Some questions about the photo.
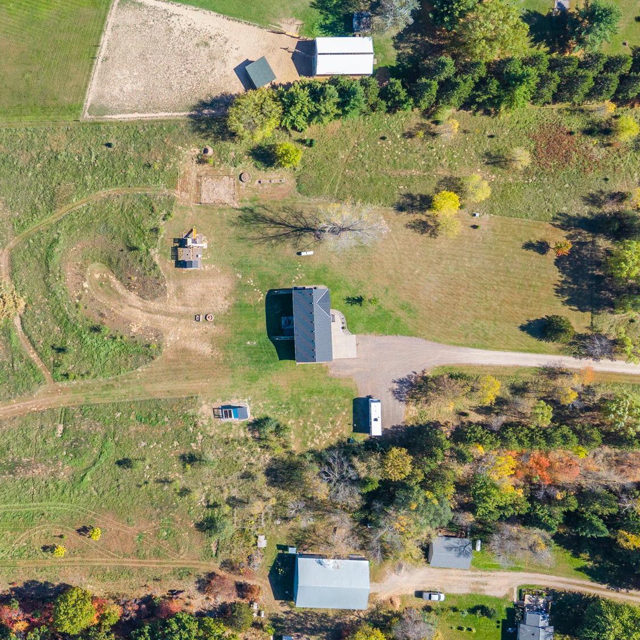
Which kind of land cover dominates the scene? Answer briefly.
grass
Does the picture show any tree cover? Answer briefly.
Yes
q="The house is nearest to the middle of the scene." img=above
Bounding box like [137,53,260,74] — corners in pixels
[291,287,333,363]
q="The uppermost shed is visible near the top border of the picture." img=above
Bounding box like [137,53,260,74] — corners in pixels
[352,13,371,36]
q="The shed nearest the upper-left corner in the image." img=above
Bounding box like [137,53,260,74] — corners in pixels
[246,57,276,86]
